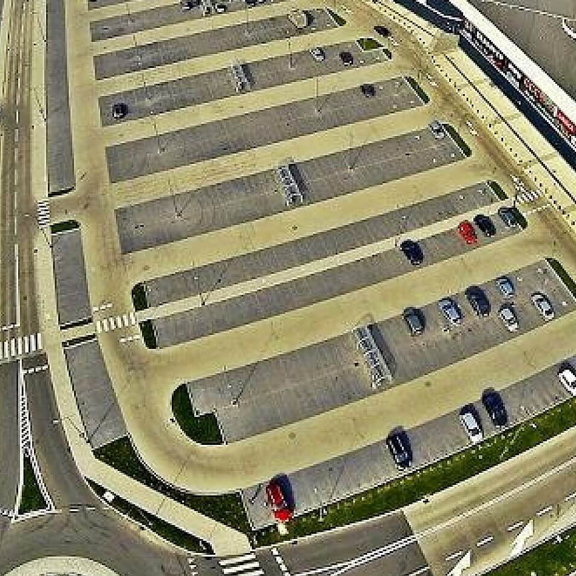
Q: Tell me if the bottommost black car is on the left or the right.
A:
right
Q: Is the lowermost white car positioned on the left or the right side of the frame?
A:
right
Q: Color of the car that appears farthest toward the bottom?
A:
red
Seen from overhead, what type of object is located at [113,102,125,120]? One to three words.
vehicle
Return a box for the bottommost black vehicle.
[385,429,418,472]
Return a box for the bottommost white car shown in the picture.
[456,409,488,445]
